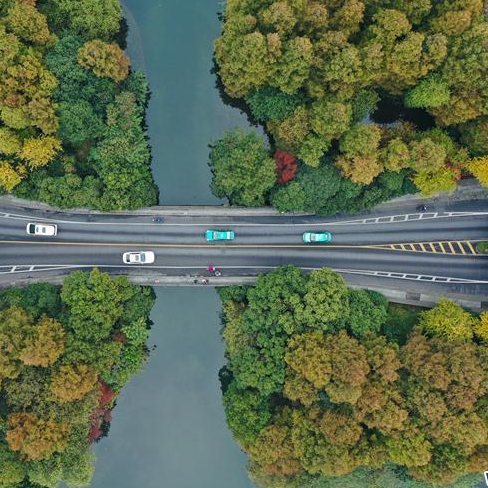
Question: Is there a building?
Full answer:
No, this view has no building in it.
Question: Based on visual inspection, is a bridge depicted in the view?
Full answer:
Yes, I can see a bridge in this picture.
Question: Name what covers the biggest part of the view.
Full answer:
For the most part, this view shows trees.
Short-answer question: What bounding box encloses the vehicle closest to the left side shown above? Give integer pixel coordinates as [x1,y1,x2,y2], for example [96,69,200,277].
[26,220,58,235]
